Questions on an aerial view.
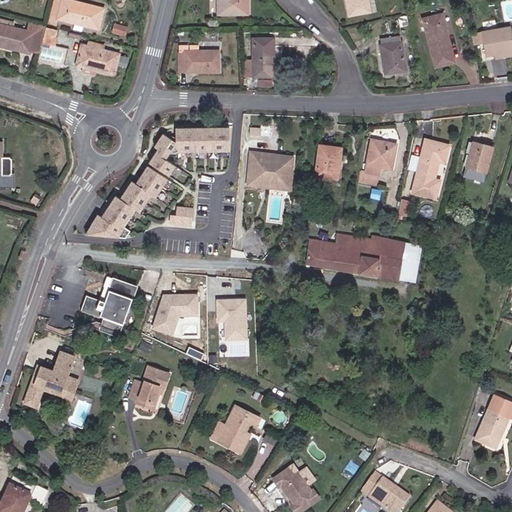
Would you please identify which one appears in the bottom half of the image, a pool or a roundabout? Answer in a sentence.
You can see a pool in the bottom half of the image.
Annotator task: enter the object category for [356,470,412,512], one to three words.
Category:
house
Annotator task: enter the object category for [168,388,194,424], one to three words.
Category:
swimming pool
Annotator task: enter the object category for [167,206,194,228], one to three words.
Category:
building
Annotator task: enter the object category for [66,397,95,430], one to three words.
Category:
swimming pool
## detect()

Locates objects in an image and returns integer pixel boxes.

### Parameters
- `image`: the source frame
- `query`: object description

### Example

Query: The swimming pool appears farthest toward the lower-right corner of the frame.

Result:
[308,441,326,462]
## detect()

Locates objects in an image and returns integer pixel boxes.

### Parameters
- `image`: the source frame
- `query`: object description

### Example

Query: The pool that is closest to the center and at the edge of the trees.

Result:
[266,191,288,224]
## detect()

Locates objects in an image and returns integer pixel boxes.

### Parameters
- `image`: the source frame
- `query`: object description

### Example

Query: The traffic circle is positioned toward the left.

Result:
[76,111,136,170]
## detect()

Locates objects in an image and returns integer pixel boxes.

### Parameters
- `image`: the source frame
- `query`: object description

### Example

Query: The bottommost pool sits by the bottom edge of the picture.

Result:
[164,492,196,512]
